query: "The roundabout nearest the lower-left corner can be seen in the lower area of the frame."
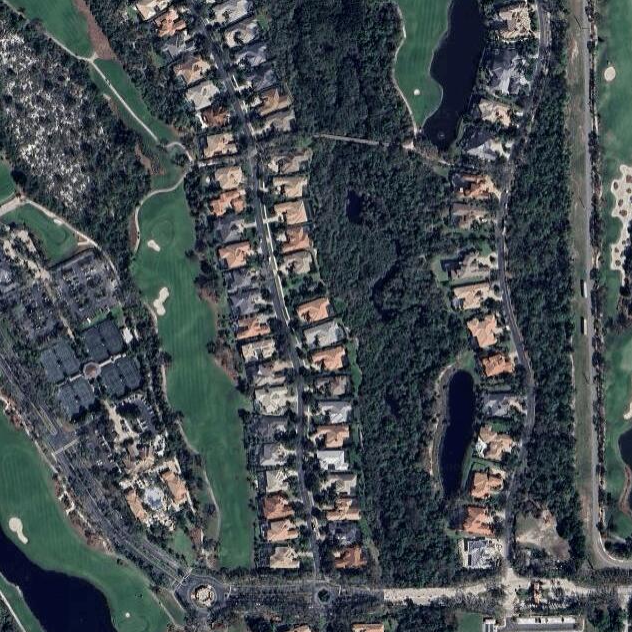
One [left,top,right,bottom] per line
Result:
[176,571,232,620]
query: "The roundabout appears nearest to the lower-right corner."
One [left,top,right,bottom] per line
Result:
[311,580,340,610]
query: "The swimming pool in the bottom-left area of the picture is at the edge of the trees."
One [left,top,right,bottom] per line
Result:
[145,487,165,508]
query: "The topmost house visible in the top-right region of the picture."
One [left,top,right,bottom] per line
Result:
[491,3,535,38]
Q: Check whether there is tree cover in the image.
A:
Yes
